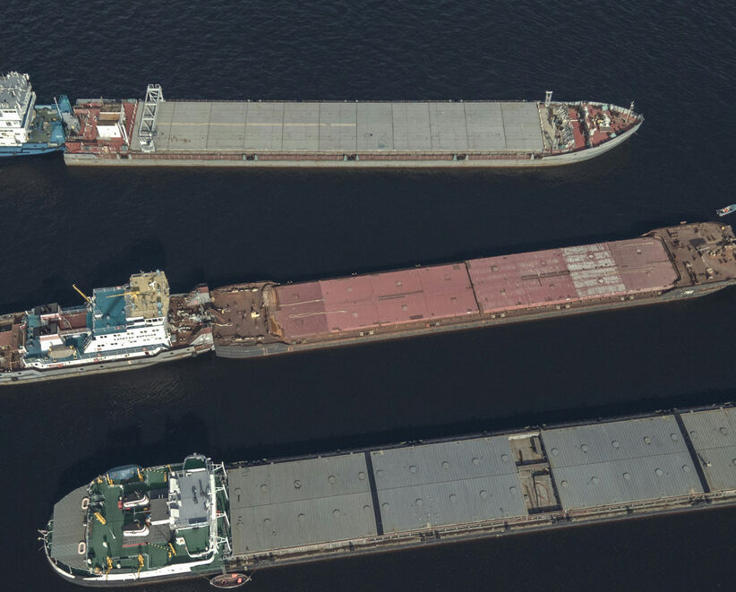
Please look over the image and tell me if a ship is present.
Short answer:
Yes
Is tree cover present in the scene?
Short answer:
No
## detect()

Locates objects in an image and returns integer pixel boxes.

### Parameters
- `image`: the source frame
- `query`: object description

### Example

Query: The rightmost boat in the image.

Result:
[716,205,736,217]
